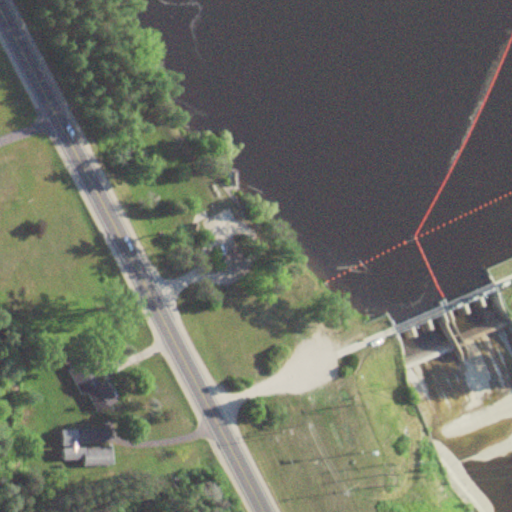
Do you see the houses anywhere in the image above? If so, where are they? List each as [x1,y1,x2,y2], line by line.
[70,366,120,414]
[61,430,114,468]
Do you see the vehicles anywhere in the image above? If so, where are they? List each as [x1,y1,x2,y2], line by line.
[126,239,134,250]
[502,280,512,288]
[371,338,384,347]
[220,242,225,252]
[66,126,74,136]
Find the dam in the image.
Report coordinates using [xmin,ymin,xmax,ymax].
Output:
[362,256,512,436]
